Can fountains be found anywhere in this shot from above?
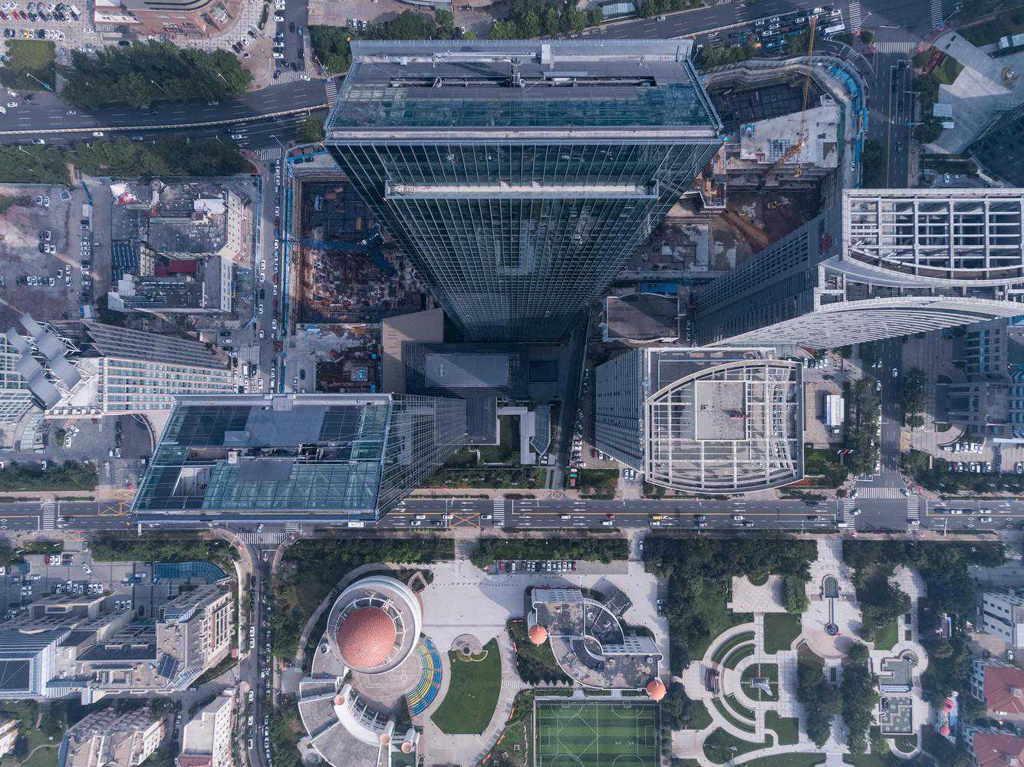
Yes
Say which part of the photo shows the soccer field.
bottom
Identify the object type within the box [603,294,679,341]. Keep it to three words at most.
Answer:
building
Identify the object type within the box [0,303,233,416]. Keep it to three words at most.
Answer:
building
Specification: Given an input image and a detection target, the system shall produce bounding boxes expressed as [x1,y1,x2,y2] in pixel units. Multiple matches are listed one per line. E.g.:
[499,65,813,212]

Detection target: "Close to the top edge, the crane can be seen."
[761,16,817,173]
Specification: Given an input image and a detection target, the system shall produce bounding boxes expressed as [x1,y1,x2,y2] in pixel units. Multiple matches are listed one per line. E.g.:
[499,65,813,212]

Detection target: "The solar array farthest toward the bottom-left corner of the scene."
[159,651,185,680]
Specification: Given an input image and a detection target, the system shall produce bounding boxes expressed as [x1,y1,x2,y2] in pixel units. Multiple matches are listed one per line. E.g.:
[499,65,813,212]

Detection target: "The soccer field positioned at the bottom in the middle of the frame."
[533,700,661,767]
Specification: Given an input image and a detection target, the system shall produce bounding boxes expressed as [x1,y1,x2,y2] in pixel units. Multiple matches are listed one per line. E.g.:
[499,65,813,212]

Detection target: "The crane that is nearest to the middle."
[277,230,400,279]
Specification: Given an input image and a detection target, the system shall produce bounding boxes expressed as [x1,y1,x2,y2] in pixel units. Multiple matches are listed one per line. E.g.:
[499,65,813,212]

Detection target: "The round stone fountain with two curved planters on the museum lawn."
[452,631,488,662]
